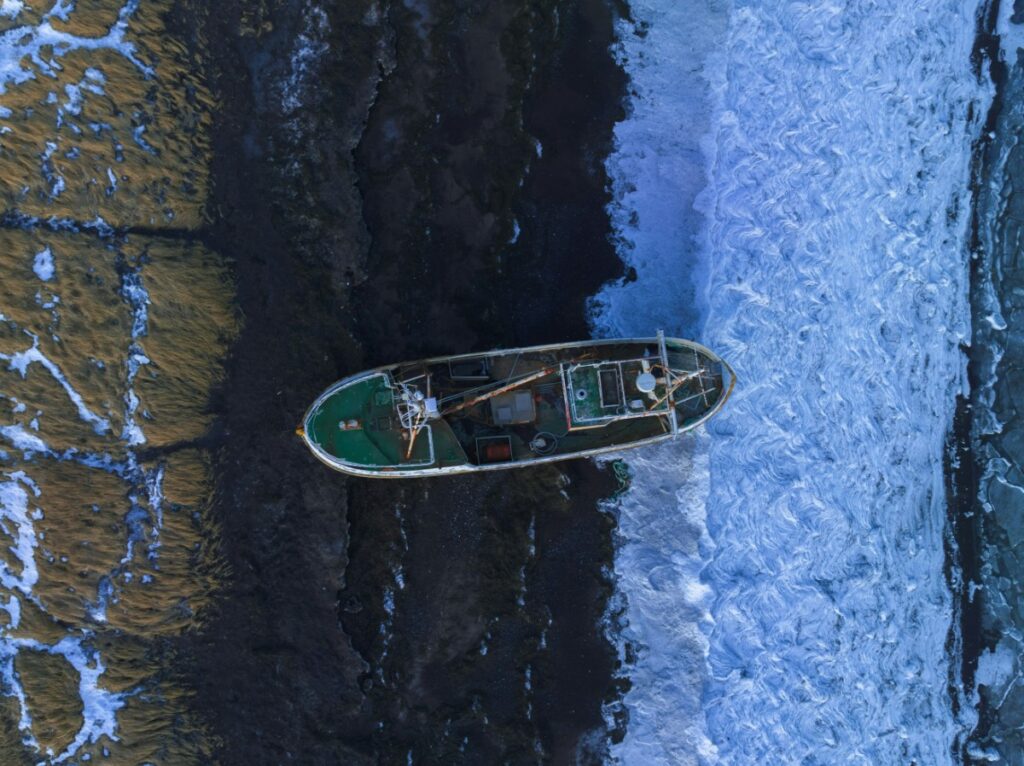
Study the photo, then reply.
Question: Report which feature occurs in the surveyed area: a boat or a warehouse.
boat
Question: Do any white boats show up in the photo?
No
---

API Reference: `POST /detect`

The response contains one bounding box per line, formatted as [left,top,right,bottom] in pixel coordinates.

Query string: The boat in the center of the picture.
[296,329,736,478]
